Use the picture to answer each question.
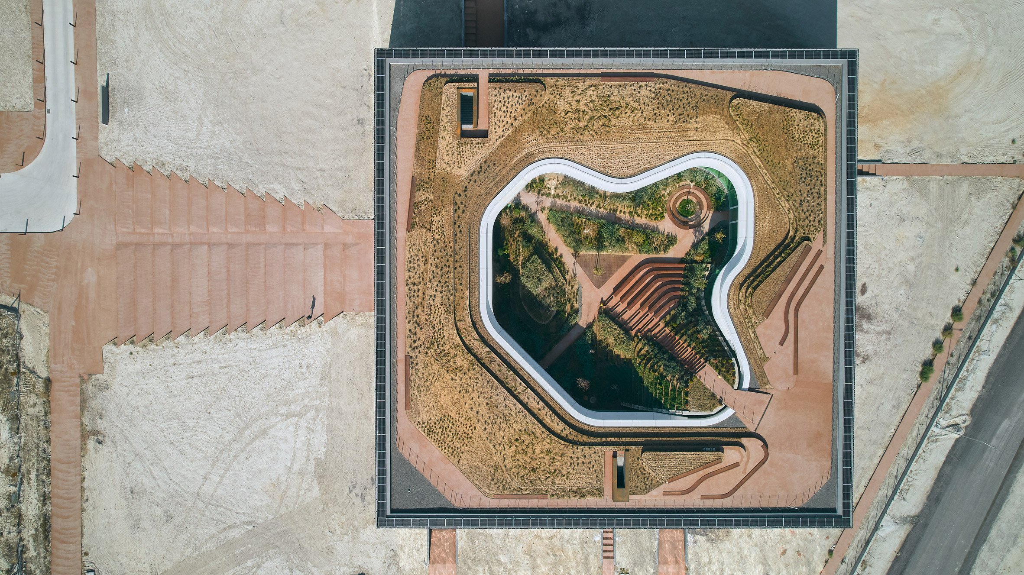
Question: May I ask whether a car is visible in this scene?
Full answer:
No, I can't see a single car in this photo.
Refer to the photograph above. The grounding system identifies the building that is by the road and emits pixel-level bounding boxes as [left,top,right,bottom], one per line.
[374,48,859,529]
